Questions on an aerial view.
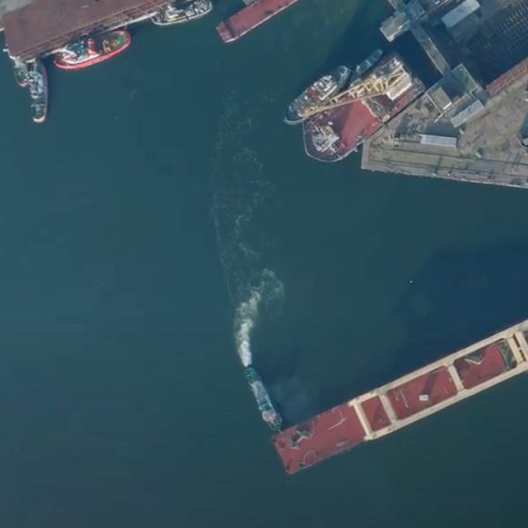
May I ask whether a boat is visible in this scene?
Yes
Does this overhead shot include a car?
No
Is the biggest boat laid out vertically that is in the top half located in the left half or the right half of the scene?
left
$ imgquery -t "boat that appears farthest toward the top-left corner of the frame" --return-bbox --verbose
[6,54,30,88]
